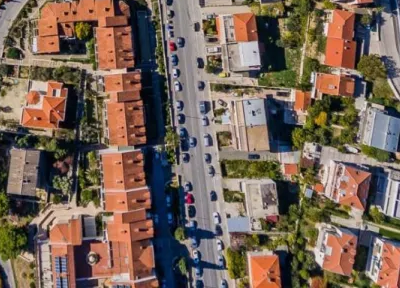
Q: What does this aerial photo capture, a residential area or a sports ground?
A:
residential area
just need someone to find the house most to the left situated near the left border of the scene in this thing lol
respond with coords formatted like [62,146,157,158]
[6,148,42,197]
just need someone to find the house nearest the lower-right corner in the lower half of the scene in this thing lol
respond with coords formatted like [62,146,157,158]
[359,236,400,288]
